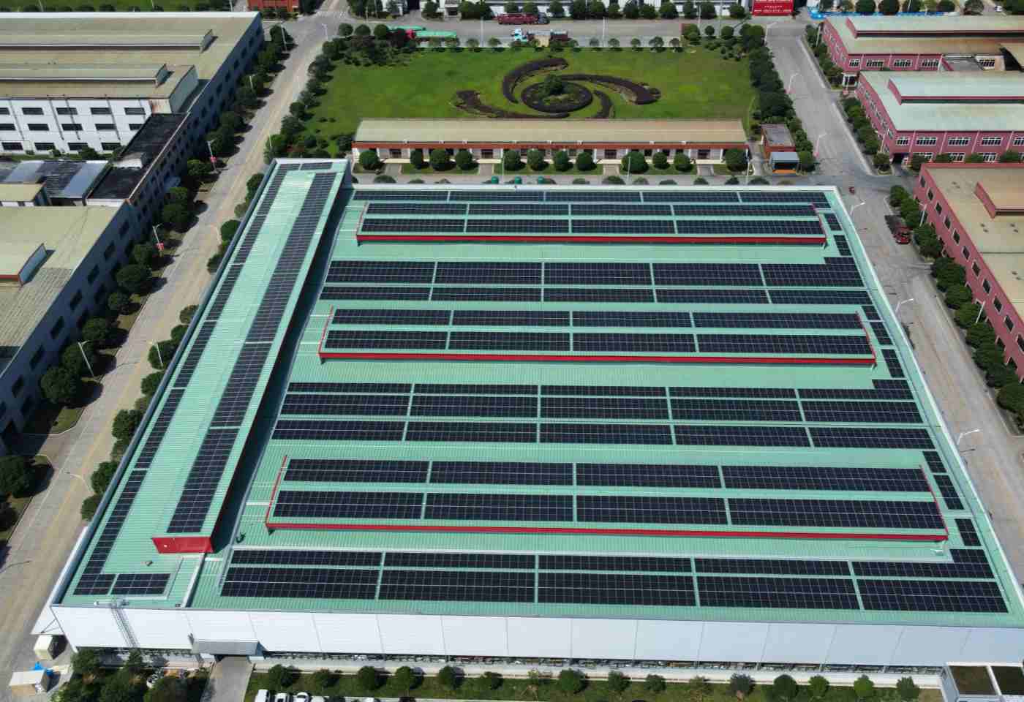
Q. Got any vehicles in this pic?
Yes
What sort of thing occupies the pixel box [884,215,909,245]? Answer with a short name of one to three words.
truck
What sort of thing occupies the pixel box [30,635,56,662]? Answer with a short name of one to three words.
building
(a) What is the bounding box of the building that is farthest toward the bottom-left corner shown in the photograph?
[2,672,45,696]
